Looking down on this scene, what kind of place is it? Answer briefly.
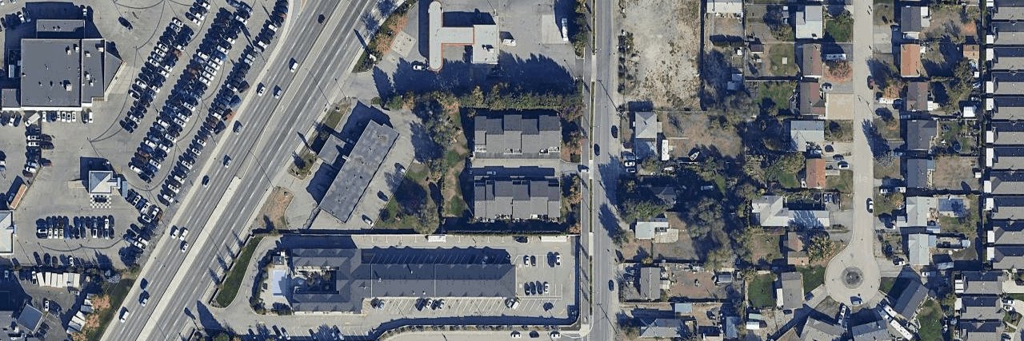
residential area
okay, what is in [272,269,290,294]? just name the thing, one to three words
swimming pool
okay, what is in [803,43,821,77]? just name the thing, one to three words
house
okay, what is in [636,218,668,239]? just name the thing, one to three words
house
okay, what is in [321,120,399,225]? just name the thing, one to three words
building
